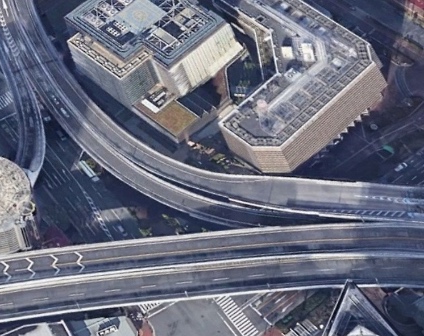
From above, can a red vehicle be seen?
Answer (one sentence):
No, no red vehicle is visible in the view.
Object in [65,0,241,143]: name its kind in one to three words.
building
